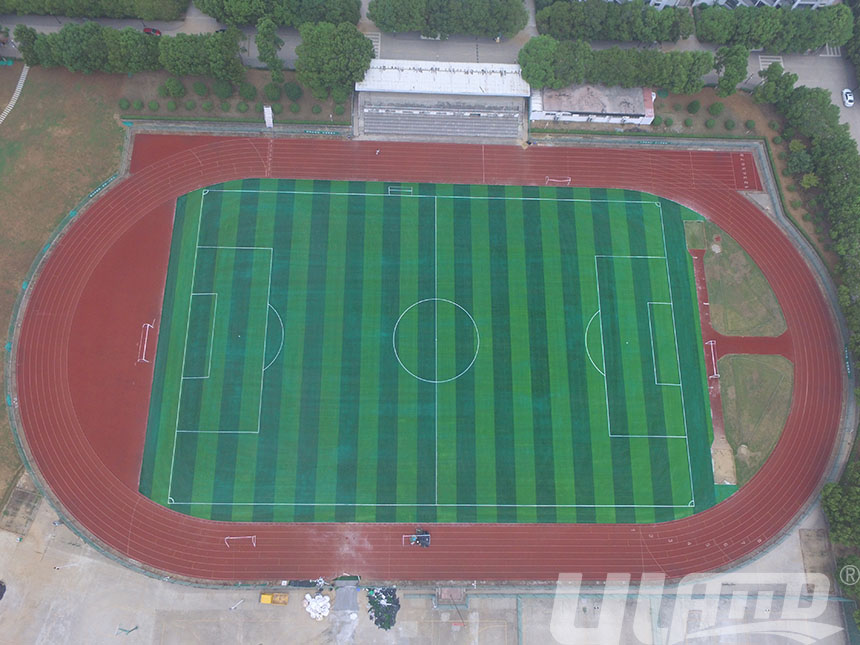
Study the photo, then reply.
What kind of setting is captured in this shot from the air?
sports ground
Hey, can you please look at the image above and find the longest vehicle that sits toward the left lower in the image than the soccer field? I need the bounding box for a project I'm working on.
[259,590,292,606]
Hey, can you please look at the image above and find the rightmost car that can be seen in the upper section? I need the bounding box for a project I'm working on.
[841,89,855,108]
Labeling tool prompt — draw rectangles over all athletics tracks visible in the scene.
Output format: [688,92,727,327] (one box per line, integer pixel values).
[13,134,842,580]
